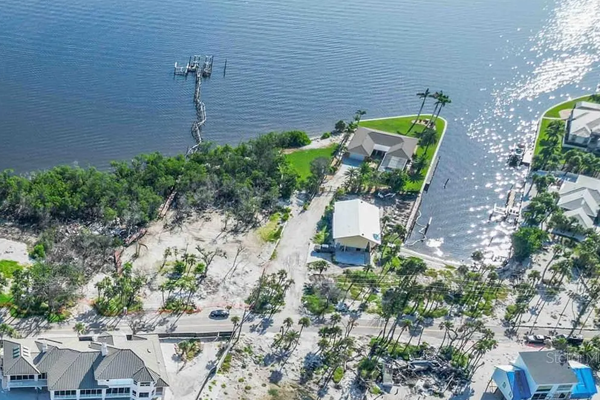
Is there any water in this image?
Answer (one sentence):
Yes, water shows up in the scene.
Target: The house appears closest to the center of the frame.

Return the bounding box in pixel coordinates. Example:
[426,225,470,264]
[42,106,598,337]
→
[327,199,381,257]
